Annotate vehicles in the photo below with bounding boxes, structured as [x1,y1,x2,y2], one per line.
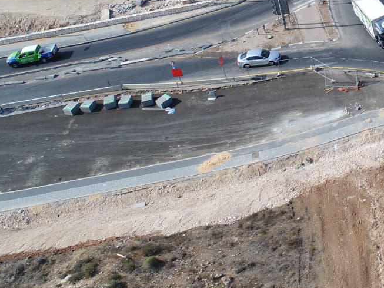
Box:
[353,0,384,46]
[6,45,60,71]
[236,49,281,68]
